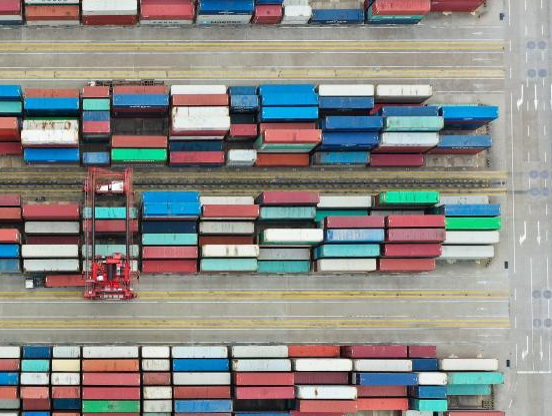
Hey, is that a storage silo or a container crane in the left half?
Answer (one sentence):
The one visible in the left half is a container crane.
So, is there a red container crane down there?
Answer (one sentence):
Yes, the image includes a red container crane.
